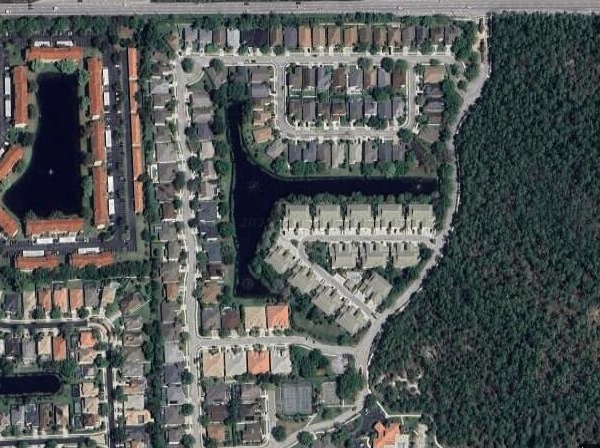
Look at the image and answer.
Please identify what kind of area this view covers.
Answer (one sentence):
This looks like a residential area.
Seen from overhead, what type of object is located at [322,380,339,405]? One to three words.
sports court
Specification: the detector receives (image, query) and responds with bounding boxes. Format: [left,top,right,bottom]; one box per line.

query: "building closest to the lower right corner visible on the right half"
[373,422,402,448]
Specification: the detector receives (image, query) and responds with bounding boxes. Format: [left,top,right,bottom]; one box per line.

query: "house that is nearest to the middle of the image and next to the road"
[282,204,313,230]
